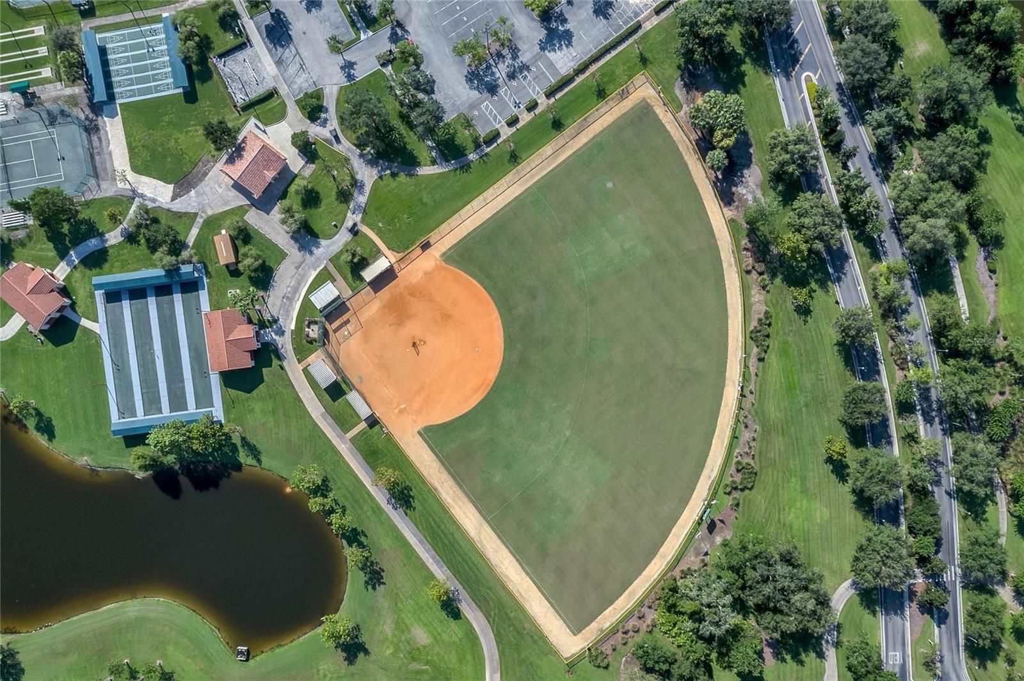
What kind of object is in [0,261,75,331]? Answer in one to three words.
building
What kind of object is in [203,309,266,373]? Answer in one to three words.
building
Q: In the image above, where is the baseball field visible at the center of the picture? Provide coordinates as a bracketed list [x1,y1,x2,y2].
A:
[324,74,741,659]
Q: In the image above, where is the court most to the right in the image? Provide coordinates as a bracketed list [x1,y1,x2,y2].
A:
[213,42,276,105]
